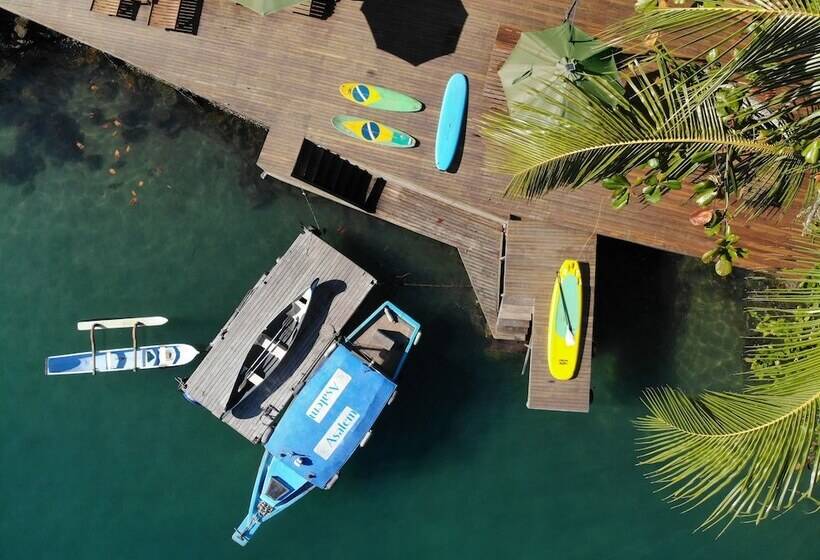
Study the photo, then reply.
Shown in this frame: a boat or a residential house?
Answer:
boat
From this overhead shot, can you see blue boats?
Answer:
Yes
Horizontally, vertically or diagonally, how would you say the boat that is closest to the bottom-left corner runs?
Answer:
horizontally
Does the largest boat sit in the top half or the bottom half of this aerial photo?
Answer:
bottom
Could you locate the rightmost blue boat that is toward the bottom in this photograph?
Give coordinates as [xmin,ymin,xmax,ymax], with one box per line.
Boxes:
[232,300,420,548]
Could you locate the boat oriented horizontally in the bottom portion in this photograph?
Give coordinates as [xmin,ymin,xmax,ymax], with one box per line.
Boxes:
[45,317,202,376]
